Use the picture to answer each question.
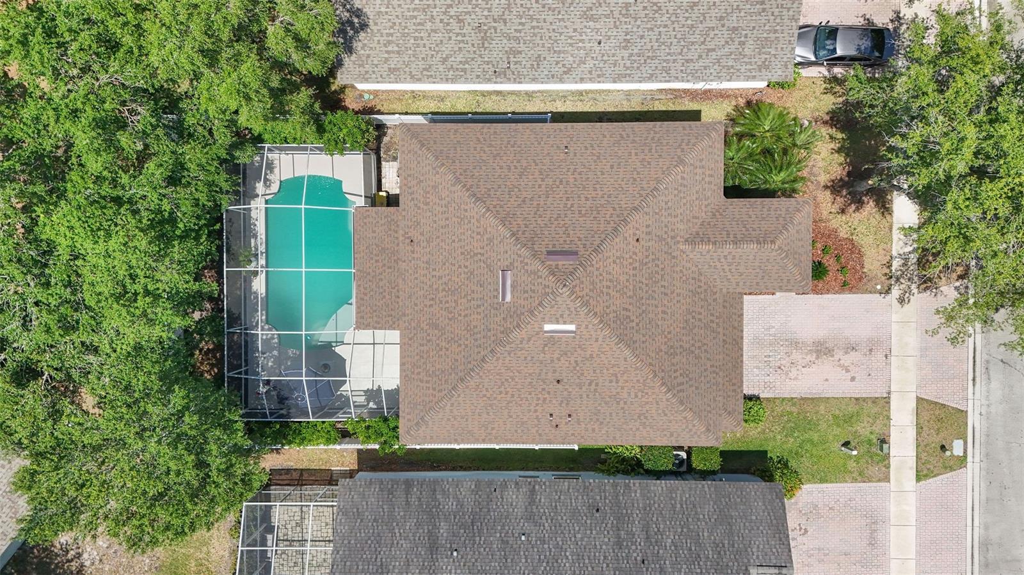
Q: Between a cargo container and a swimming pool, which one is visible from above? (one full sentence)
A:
Visible in the photo is a swimming pool.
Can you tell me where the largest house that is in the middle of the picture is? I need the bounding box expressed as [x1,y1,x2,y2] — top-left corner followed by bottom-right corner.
[355,121,813,447]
